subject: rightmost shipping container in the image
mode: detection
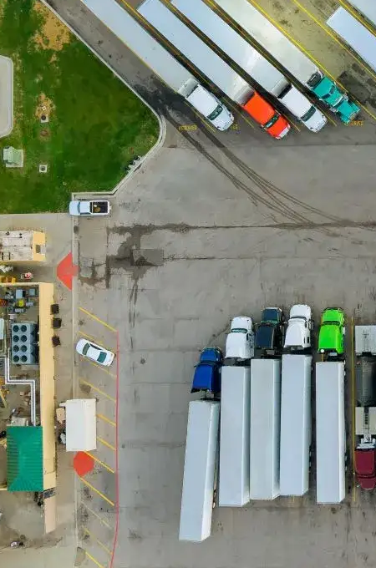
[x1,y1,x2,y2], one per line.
[66,397,97,451]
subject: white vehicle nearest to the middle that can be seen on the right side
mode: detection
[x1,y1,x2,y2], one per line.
[226,316,256,365]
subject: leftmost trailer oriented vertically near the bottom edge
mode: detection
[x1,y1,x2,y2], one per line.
[180,398,221,541]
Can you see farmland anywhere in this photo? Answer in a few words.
No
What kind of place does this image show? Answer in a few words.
parking lot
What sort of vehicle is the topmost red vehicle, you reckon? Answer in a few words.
truck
